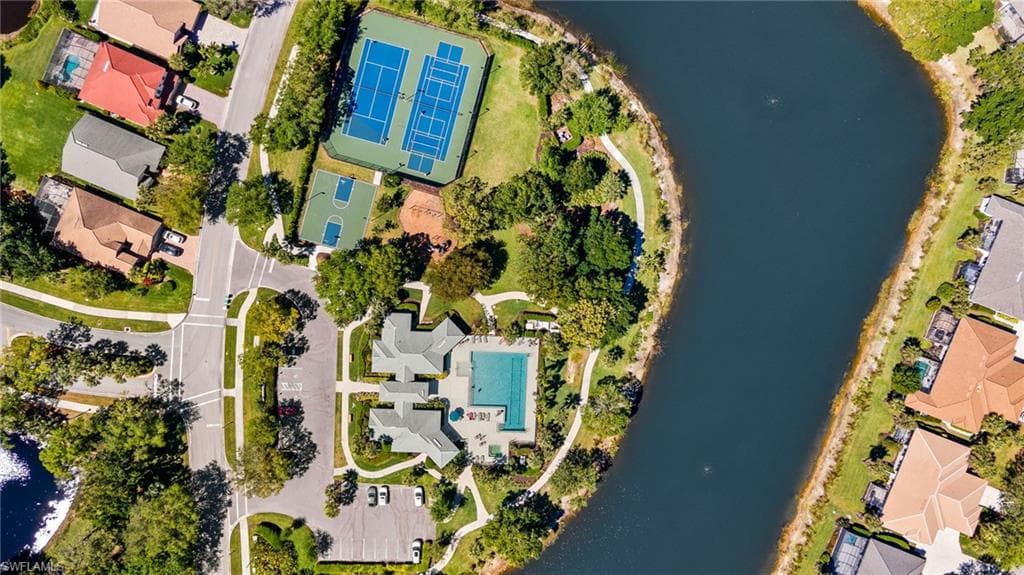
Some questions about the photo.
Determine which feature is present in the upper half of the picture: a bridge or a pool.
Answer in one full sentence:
Looking in the upper half of the picture, you will find a pool.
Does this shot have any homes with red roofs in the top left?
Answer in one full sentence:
Yes, the scene does show a home with a red roof in the top left.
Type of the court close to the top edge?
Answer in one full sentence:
I'd say the court close to the top edge is a tennis court.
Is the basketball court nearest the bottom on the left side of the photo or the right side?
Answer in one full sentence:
It is on the left.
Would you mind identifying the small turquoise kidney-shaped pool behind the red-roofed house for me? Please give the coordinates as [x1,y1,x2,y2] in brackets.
[58,54,81,83]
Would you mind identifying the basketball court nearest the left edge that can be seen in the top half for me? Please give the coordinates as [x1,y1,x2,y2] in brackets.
[299,170,376,254]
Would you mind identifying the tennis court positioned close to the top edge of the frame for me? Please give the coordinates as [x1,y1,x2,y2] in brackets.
[325,10,489,184]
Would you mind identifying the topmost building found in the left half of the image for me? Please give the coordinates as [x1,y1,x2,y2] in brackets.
[94,0,205,60]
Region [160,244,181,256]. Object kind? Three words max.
vehicle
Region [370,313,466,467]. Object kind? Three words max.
building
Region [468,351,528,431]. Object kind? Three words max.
swimming pool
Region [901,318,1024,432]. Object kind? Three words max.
house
